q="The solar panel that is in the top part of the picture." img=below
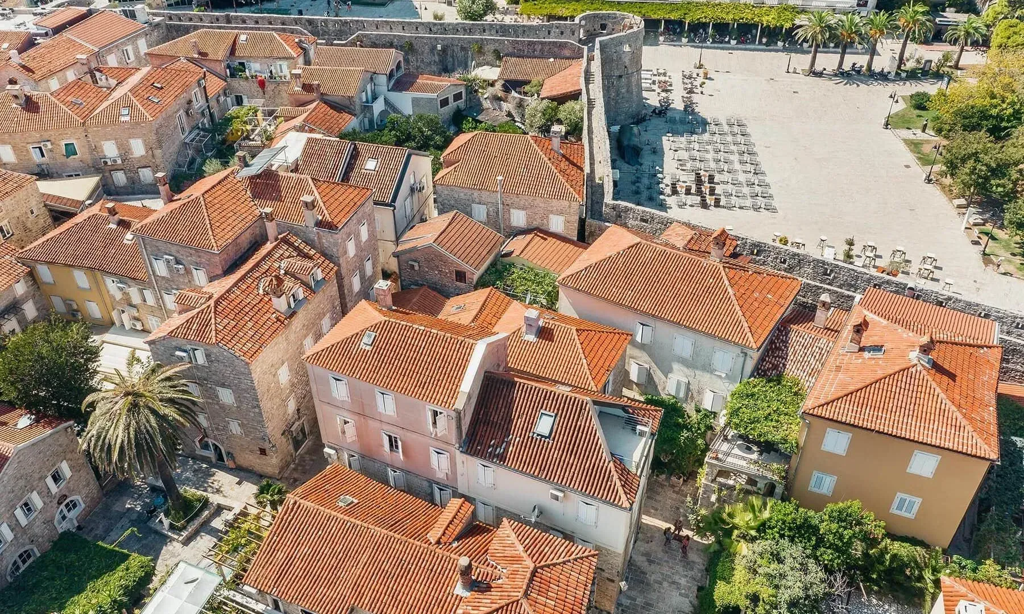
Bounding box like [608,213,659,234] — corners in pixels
[235,144,293,193]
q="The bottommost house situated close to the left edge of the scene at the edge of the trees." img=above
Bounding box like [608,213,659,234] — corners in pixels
[0,389,102,574]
